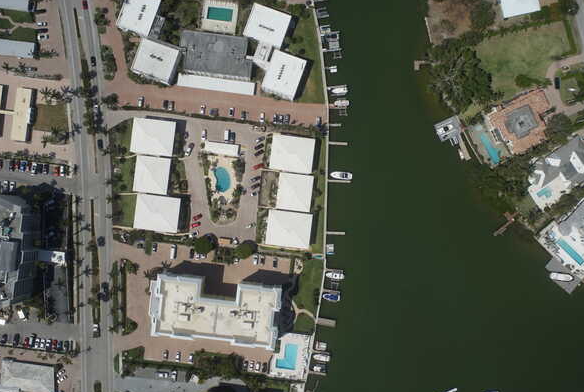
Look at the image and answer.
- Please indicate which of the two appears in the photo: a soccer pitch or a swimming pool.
swimming pool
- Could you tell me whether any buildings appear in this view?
Yes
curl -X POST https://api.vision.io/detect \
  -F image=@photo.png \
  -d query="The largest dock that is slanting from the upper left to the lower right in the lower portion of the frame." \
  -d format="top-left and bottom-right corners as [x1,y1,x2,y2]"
[544,257,580,294]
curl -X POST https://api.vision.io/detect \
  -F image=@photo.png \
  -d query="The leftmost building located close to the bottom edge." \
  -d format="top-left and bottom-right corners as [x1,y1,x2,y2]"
[0,357,58,392]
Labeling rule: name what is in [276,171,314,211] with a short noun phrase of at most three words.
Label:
house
